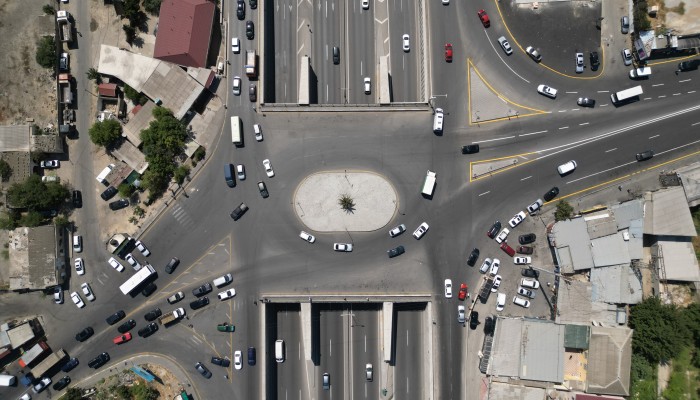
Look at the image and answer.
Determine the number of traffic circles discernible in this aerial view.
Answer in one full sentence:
I count just 1 traffic circle.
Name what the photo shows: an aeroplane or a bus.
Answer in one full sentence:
This aerial view contains a bus.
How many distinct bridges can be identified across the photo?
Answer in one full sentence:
The photo contains exactly 1 bridge.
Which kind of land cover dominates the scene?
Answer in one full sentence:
The bulk of the photo consists of paved ground.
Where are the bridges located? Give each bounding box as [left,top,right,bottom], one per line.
[260,103,433,303]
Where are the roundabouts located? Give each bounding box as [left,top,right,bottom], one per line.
[294,171,399,233]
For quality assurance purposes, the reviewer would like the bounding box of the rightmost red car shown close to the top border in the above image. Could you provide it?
[477,10,490,27]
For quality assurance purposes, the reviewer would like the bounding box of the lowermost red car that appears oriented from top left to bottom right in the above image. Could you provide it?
[500,242,515,256]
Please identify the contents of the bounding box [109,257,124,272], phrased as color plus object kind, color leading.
white car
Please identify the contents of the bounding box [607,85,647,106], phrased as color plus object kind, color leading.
white vehicle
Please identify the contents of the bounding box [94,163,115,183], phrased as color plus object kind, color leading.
white vehicle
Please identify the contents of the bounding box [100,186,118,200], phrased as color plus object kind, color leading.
black vehicle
